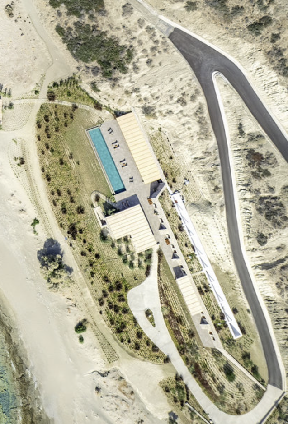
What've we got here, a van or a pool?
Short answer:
pool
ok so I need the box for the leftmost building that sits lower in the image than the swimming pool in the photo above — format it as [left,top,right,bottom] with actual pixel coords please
[105,204,157,252]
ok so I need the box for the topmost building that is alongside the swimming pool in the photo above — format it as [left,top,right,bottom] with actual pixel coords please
[116,111,161,184]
